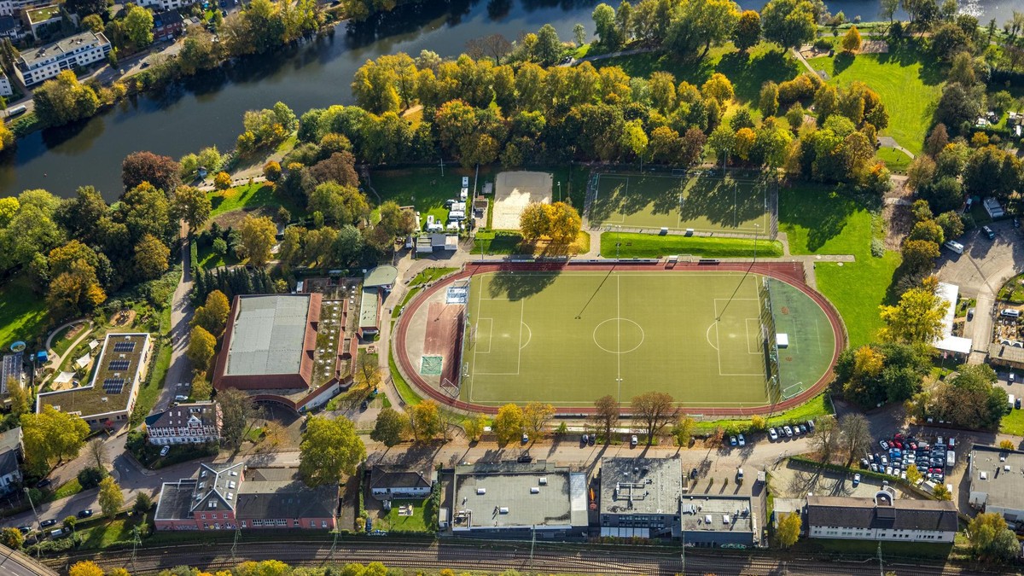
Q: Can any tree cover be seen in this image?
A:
Yes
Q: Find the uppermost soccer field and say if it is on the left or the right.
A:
right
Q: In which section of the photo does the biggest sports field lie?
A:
center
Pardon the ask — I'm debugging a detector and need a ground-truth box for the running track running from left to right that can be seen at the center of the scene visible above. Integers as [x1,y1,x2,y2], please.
[389,260,851,418]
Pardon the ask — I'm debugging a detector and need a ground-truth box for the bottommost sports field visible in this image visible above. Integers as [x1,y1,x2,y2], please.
[461,271,778,405]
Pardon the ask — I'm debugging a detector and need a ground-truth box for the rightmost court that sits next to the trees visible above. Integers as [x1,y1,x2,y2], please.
[491,171,552,229]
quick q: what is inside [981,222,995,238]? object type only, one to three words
vehicle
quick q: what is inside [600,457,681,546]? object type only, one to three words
building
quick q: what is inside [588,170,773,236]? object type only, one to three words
soccer field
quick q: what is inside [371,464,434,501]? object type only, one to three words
house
